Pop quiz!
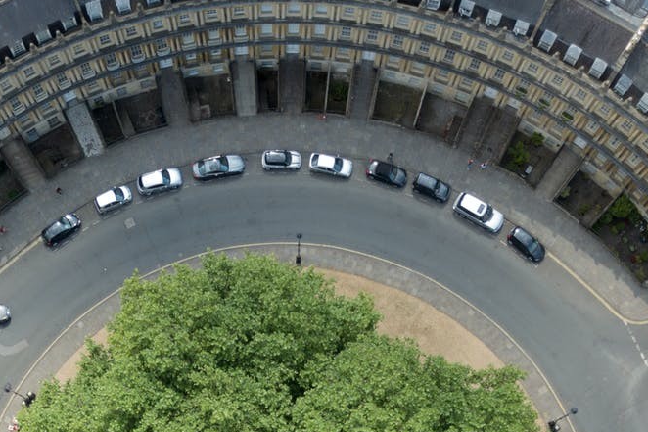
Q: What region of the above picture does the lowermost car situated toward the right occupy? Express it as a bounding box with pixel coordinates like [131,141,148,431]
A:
[505,226,546,264]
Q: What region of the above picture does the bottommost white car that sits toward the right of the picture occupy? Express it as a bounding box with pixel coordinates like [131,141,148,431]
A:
[452,191,505,234]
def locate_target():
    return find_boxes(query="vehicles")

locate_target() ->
[0,305,11,324]
[261,148,302,171]
[365,159,408,187]
[505,226,546,264]
[409,171,452,203]
[41,213,84,249]
[136,166,184,197]
[193,154,245,182]
[309,155,354,179]
[452,191,505,234]
[93,184,134,215]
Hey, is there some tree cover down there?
Yes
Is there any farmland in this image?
No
